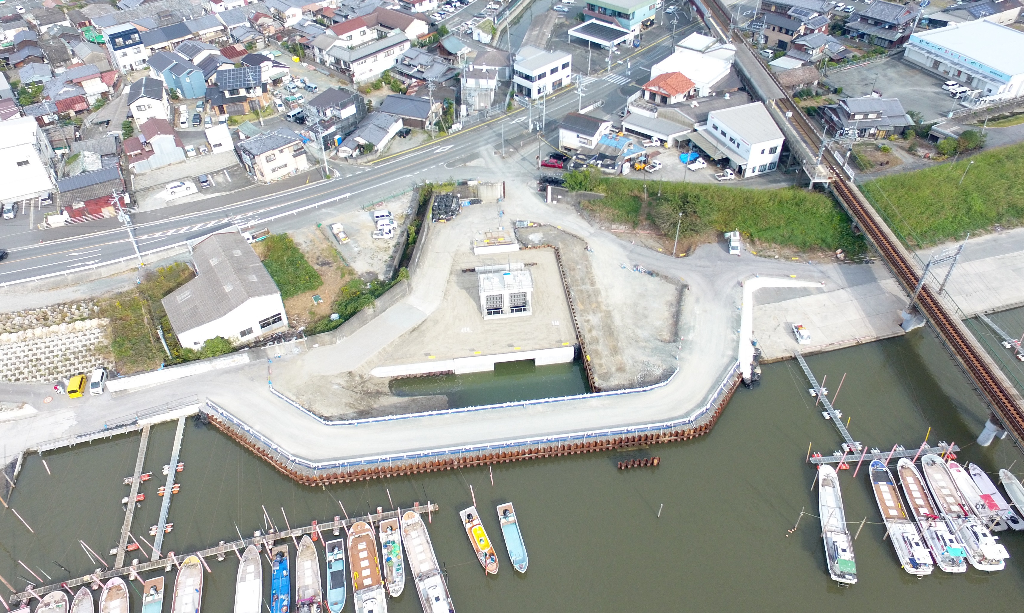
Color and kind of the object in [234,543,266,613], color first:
white boat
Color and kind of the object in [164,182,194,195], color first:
white vehicle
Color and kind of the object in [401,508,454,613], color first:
white boat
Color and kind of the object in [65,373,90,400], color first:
yellow vehicle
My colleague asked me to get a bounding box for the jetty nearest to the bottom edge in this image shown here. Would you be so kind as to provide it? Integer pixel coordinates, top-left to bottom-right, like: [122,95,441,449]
[8,501,439,607]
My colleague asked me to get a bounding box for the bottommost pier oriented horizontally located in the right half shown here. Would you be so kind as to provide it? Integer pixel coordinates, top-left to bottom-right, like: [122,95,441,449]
[808,440,964,467]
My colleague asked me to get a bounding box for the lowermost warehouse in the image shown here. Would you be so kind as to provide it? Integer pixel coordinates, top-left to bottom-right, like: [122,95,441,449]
[161,232,289,349]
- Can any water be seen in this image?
Yes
